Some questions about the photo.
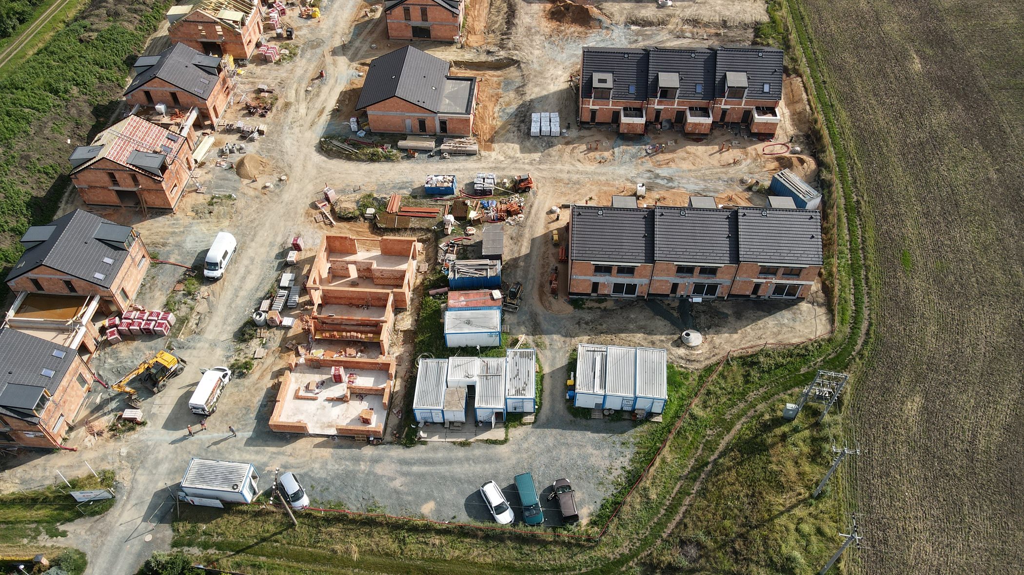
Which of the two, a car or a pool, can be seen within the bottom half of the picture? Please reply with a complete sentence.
It is a car that can be seen within the bottom half of the picture.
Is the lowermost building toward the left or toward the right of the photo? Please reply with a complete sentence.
You can find the lowermost building on the left side of the picture.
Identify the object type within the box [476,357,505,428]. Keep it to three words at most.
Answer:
building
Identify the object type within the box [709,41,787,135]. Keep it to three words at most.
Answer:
house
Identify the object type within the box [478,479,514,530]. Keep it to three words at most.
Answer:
car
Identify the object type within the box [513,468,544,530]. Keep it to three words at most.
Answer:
van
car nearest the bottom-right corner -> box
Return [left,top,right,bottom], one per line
[545,477,581,526]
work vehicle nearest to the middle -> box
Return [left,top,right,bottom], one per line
[502,280,524,311]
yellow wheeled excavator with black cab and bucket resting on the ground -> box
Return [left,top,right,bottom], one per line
[112,353,187,411]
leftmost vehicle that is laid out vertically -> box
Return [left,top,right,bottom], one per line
[203,231,233,281]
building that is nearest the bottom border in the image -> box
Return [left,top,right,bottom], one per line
[180,458,266,506]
